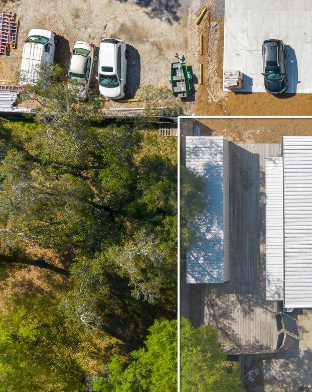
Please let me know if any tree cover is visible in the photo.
Yes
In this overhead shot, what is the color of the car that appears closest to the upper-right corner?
black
